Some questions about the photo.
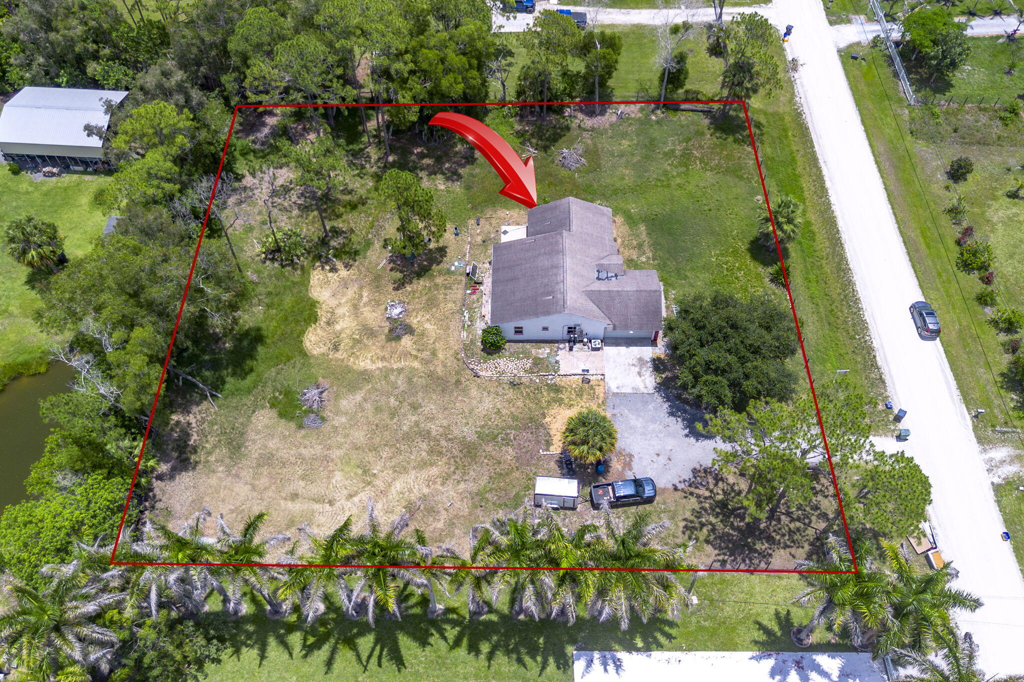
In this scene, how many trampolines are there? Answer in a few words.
none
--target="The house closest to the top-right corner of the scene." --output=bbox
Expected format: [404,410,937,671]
[490,196,662,340]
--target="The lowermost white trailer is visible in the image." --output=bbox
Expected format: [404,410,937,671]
[535,476,589,508]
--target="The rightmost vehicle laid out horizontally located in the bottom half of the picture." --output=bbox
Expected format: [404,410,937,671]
[588,477,657,509]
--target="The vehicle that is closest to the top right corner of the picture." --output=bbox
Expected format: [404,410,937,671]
[909,298,940,335]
